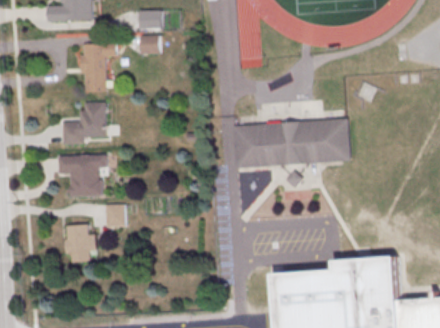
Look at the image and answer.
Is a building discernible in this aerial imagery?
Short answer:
Yes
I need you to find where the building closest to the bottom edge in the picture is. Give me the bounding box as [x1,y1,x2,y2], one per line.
[266,255,440,328]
